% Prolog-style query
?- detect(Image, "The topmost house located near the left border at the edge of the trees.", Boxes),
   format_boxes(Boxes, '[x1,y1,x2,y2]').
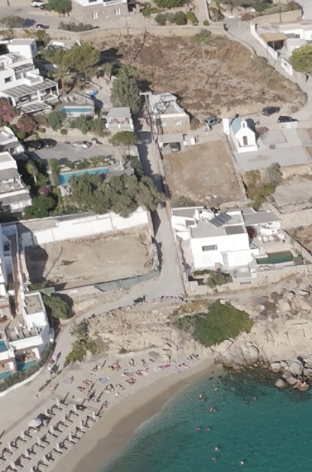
[0,39,60,117]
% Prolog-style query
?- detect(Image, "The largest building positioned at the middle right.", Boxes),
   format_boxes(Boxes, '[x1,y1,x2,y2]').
[172,207,297,281]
